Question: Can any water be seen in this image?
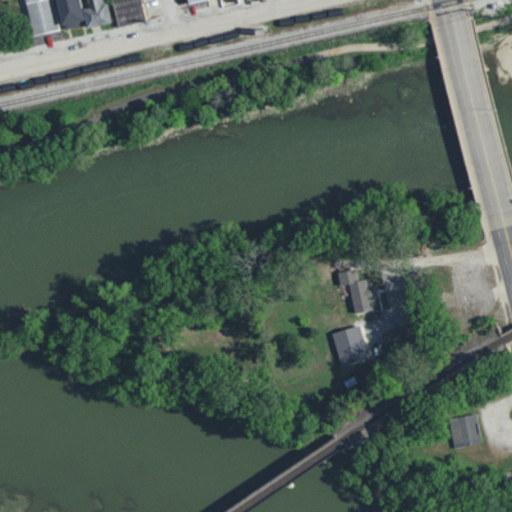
Yes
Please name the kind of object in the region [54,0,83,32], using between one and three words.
house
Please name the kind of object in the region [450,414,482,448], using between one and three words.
shed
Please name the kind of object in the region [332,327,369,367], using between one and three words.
building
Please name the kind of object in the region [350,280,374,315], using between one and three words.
house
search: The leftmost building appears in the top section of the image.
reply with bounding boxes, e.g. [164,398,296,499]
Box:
[26,0,63,38]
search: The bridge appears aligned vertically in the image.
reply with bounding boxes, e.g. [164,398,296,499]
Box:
[429,10,512,220]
